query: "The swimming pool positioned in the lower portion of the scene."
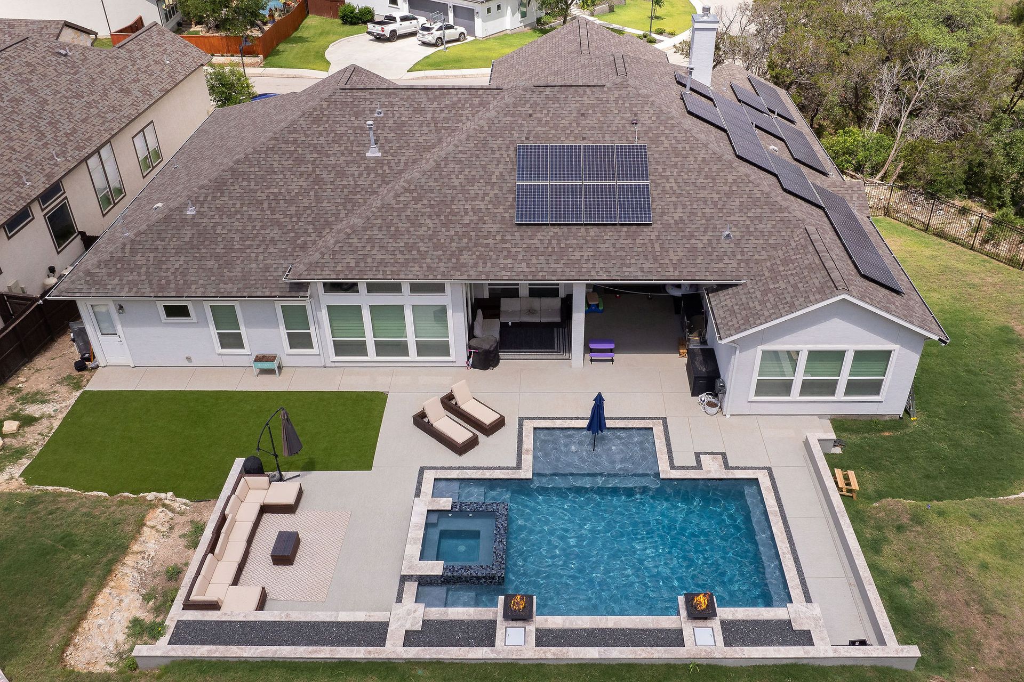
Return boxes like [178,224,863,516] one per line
[401,420,806,629]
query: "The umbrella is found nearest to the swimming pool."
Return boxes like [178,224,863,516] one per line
[586,390,607,452]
